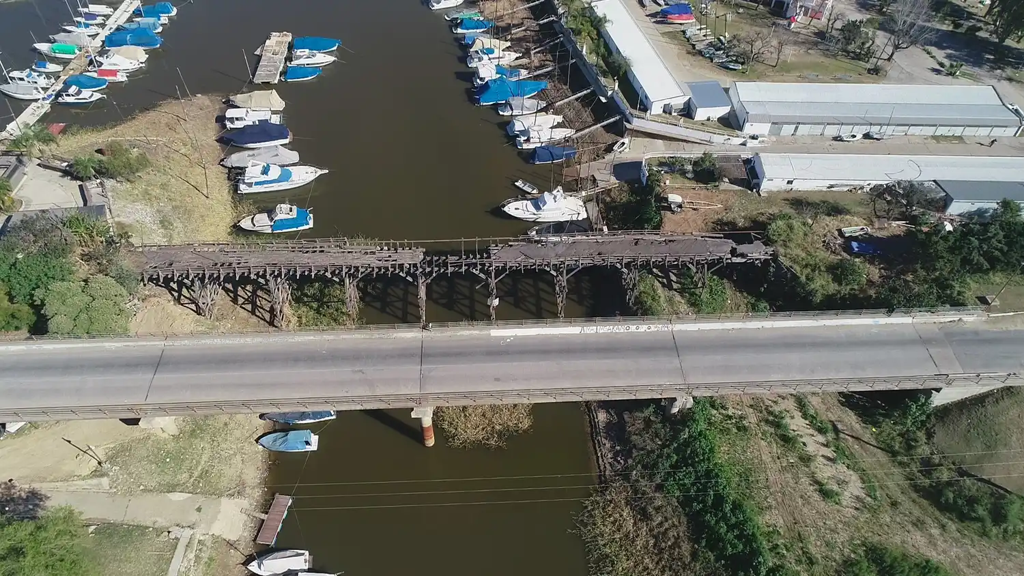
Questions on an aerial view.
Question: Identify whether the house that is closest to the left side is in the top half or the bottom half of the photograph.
top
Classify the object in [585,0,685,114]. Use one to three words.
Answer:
building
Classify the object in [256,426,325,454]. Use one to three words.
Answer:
boat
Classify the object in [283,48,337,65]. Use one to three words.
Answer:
boat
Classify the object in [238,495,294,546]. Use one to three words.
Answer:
pier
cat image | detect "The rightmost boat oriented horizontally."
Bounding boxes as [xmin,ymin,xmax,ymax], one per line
[841,223,872,237]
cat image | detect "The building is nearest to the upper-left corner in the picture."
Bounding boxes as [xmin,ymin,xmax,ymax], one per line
[0,155,30,207]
